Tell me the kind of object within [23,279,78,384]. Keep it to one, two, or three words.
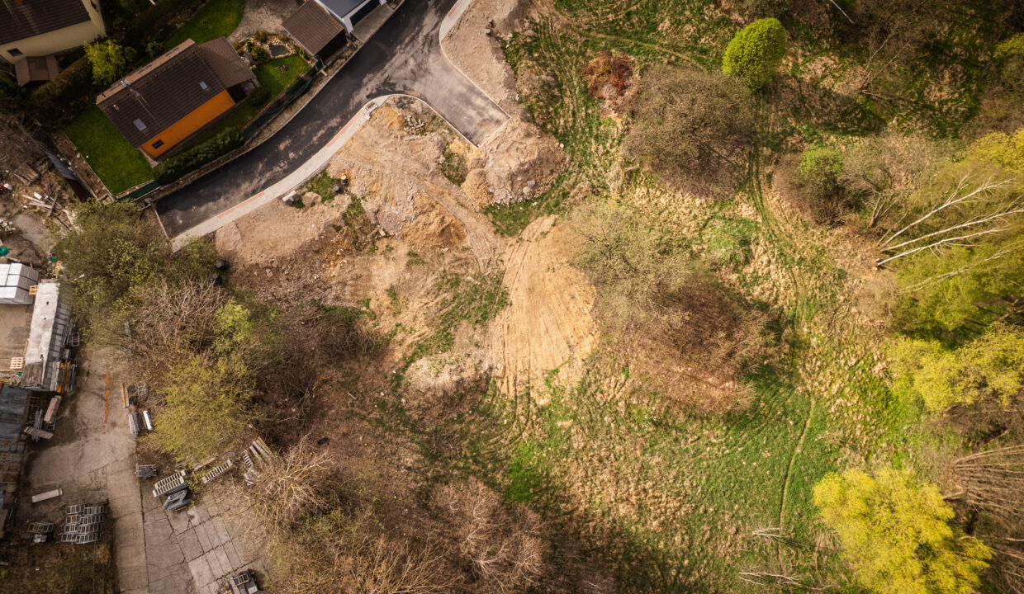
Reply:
shed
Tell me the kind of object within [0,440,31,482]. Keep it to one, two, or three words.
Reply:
shed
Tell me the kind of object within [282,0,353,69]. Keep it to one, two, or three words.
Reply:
building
